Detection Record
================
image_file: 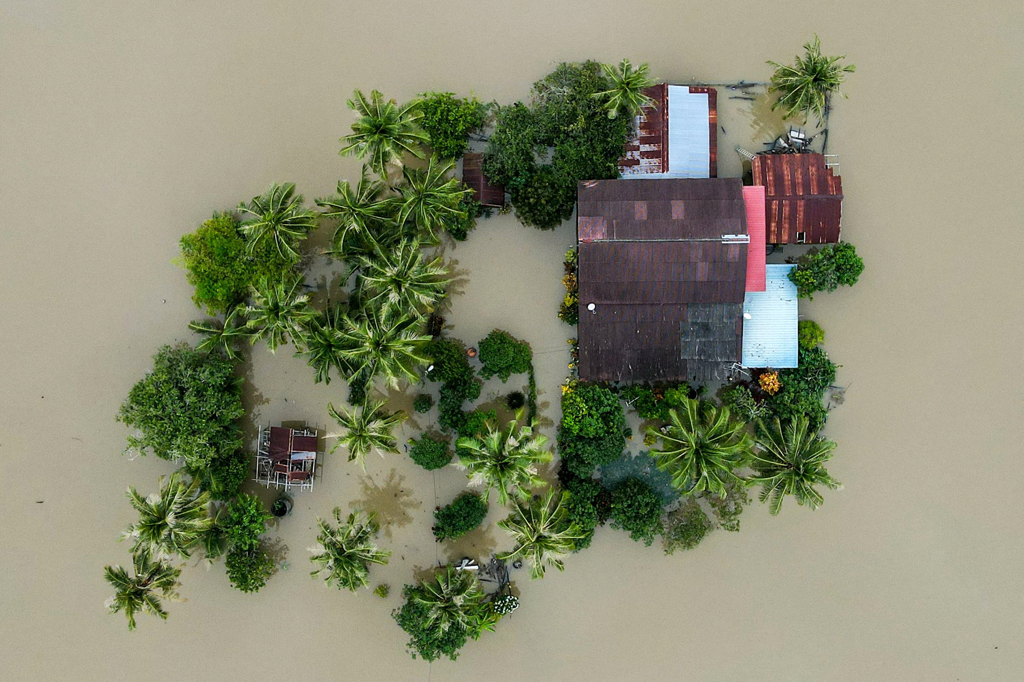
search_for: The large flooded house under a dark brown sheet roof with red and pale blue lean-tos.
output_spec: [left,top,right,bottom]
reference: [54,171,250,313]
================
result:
[576,178,799,382]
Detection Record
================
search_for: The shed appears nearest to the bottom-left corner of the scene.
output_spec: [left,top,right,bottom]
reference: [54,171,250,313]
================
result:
[252,424,321,492]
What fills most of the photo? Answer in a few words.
water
